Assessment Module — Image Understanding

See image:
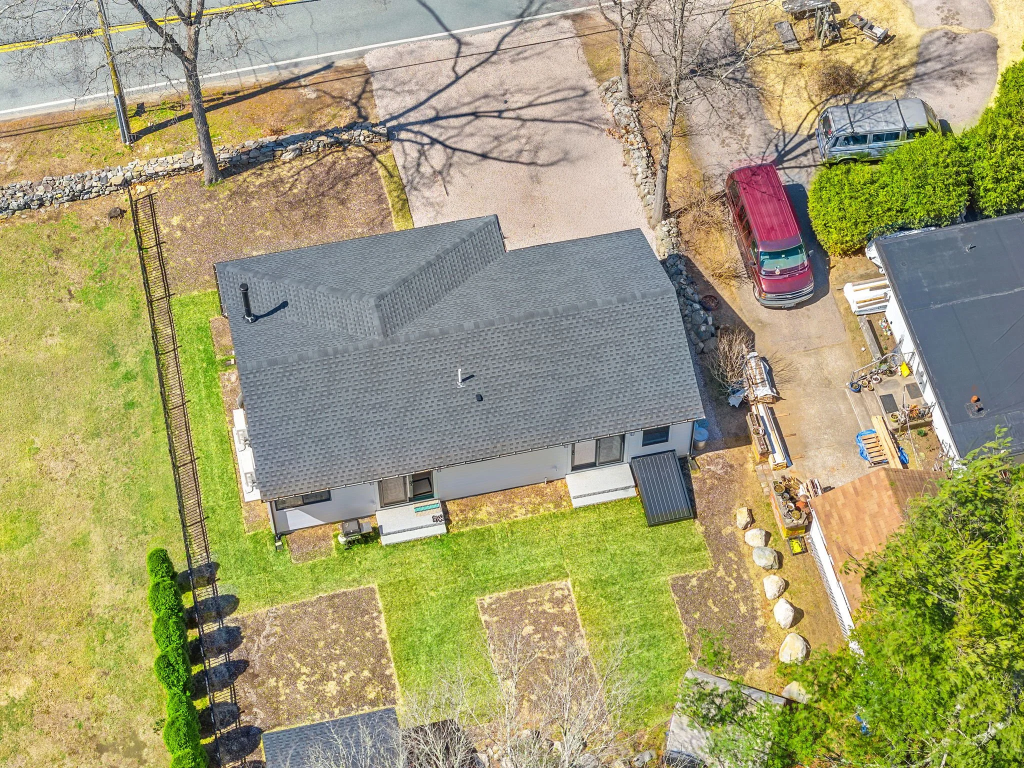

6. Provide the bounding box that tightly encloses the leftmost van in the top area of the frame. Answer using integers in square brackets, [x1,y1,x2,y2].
[722,160,818,309]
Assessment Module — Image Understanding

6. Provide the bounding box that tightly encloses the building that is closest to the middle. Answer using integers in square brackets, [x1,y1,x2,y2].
[212,212,705,541]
